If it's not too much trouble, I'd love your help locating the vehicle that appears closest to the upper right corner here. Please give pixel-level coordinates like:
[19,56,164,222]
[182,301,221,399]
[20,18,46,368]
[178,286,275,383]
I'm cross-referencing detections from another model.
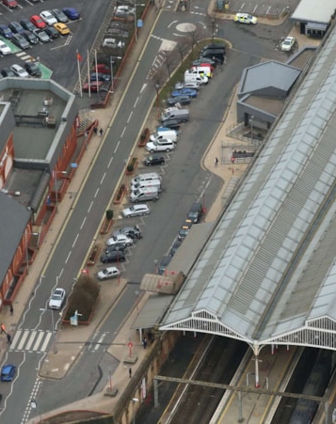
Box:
[282,36,294,50]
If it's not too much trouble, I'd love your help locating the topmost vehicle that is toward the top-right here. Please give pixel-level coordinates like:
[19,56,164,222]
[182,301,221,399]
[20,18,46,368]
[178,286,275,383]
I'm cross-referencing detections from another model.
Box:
[232,11,259,25]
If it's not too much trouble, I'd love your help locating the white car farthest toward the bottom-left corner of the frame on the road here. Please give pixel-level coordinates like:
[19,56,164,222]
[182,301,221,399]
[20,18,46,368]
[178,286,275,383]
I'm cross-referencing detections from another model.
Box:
[48,289,64,308]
